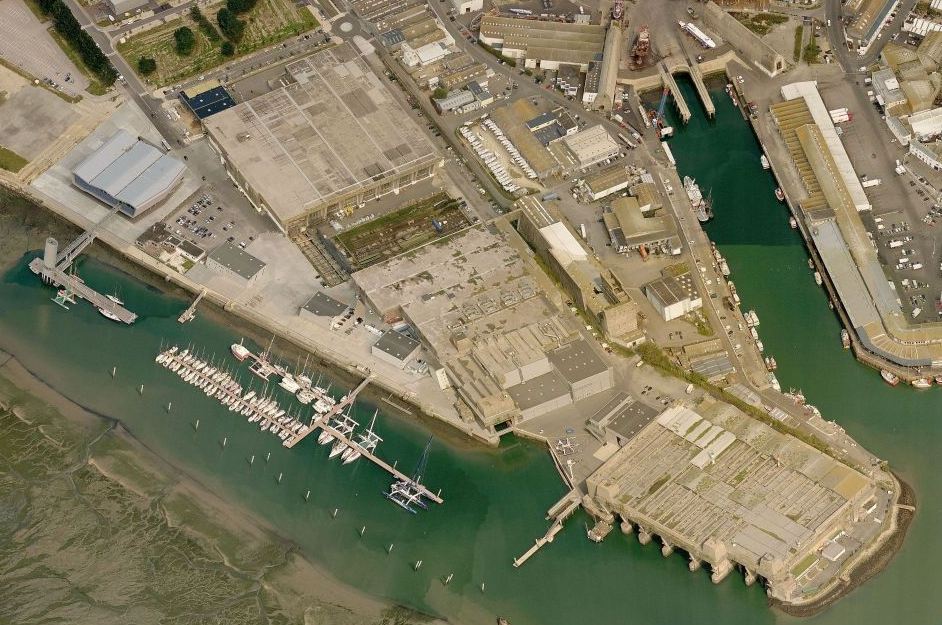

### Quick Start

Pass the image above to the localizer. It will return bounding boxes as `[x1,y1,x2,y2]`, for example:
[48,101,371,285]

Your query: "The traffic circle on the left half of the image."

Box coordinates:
[324,15,363,41]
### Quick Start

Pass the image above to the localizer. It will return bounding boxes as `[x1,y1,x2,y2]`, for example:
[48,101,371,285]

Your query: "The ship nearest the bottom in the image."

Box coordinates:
[587,523,614,542]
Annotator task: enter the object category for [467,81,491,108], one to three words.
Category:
building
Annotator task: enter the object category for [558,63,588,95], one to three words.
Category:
house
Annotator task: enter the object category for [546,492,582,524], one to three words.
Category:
pier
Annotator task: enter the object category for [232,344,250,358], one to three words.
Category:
boat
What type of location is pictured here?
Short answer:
port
